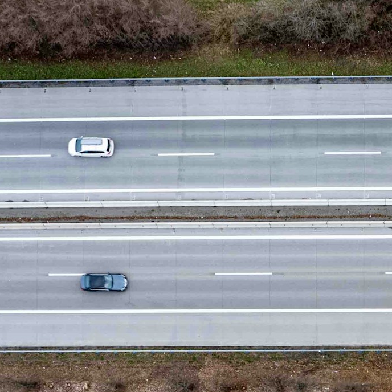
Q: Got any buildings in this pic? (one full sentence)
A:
No, the frame has no building in it.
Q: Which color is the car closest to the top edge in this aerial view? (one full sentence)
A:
From above, the car closest to the top edge appears white.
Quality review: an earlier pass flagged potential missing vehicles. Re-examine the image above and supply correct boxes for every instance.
[80,272,130,292]
[69,137,115,157]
